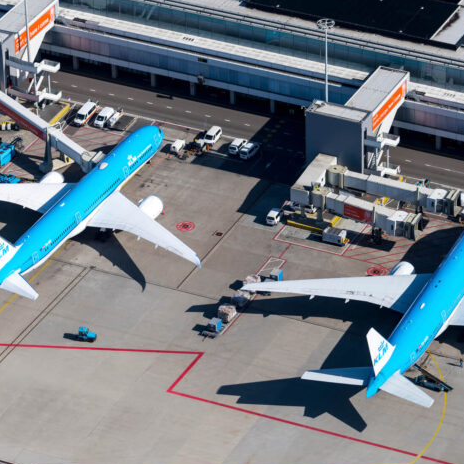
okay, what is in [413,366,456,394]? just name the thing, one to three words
work vehicle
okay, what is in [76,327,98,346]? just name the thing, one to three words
work vehicle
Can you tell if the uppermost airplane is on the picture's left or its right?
left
